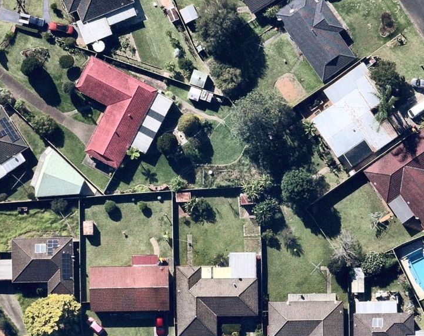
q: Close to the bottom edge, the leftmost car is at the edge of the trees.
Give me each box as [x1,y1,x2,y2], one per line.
[86,315,105,334]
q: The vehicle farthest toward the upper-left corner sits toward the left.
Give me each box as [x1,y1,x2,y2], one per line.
[19,14,45,28]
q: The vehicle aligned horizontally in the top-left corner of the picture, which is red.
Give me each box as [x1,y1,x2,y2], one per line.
[49,21,74,35]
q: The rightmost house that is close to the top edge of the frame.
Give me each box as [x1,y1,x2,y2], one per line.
[277,0,355,83]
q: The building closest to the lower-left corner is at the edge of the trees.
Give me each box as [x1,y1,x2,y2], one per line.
[0,237,75,296]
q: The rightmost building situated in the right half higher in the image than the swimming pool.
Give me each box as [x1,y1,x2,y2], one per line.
[364,132,424,231]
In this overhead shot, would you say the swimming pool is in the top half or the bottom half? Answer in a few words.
bottom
